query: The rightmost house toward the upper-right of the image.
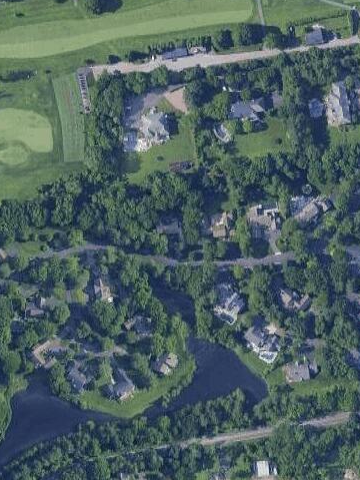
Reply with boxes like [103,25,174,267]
[326,81,354,127]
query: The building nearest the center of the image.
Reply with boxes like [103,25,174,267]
[154,216,178,234]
